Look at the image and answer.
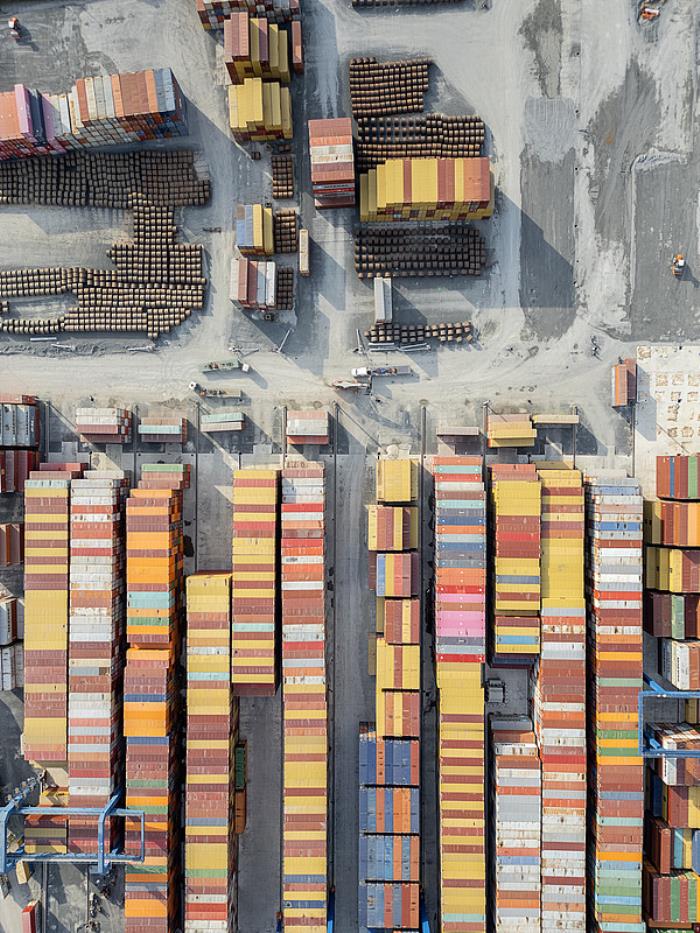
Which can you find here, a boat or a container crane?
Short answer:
container crane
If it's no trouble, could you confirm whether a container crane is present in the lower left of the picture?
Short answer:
Yes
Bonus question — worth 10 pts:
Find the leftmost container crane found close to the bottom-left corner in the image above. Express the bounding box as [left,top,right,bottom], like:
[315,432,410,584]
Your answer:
[0,774,145,875]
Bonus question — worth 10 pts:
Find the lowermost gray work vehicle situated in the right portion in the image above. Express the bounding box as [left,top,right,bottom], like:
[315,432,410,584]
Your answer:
[487,682,503,702]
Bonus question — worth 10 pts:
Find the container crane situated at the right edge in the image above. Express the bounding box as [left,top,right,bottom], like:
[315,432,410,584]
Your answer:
[638,674,700,766]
